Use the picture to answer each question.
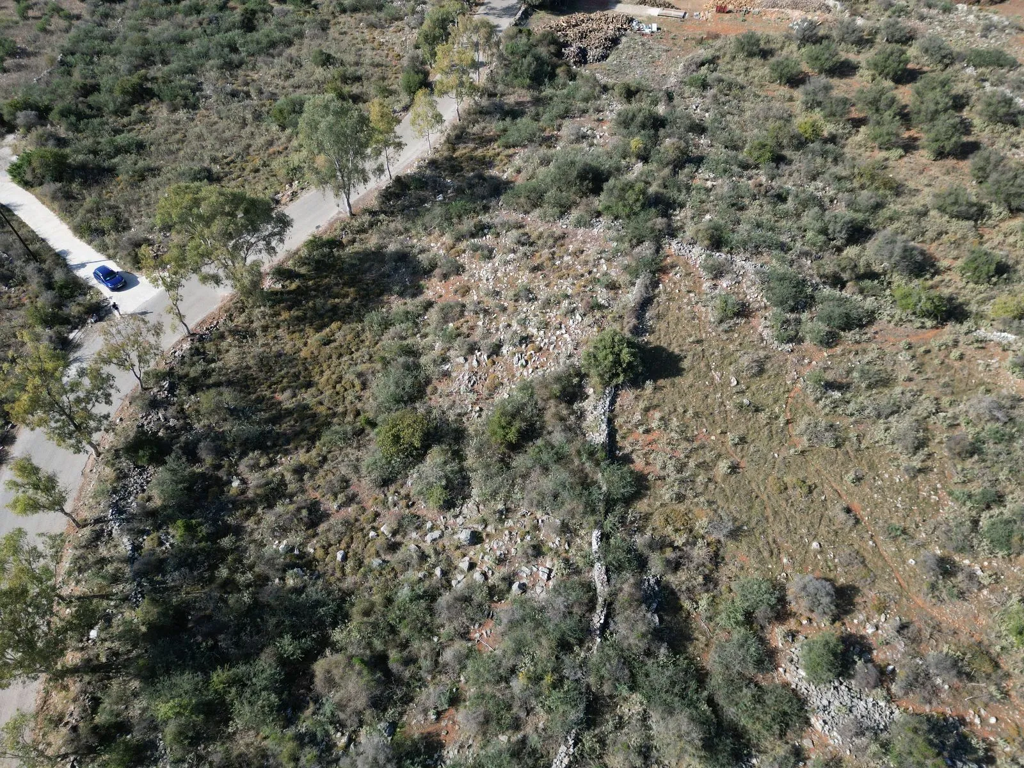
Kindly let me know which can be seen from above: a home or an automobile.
automobile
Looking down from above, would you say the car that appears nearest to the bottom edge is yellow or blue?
blue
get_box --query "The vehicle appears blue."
[90,263,125,292]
